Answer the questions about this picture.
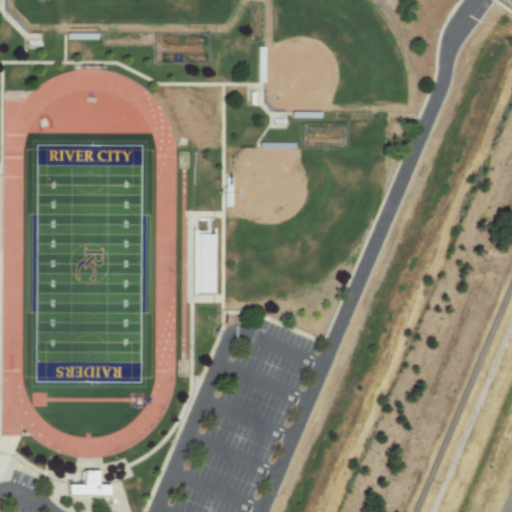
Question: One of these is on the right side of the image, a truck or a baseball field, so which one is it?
baseball field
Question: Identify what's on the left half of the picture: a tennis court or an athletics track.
athletics track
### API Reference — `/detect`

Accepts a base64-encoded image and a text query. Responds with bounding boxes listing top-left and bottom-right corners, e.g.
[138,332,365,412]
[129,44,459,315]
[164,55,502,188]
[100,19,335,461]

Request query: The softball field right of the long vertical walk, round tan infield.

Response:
[228,148,384,292]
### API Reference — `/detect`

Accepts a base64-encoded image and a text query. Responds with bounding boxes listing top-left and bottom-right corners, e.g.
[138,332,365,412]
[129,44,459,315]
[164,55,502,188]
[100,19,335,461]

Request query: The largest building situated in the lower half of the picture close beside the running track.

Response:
[70,470,113,496]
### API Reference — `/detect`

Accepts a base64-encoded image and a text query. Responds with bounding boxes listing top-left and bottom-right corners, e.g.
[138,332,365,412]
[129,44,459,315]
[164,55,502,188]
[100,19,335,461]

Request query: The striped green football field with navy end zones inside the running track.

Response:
[24,134,156,437]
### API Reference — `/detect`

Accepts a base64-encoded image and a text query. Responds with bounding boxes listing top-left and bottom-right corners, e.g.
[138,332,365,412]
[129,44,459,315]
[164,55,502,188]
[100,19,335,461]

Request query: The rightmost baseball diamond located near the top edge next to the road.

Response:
[266,0,407,111]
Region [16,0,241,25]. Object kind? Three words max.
baseball field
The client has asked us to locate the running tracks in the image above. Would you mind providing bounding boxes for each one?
[4,70,176,458]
